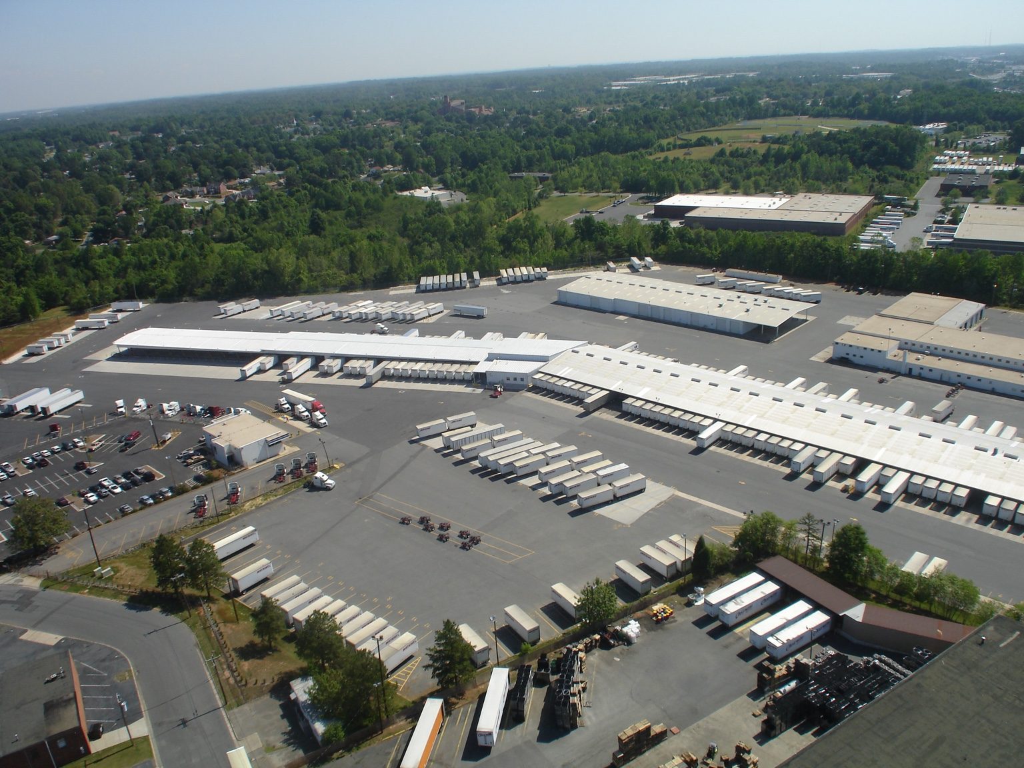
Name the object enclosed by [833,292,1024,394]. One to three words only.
building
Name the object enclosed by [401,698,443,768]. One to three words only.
trailer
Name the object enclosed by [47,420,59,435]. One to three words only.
vehicle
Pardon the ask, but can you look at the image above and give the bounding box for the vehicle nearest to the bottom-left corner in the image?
[83,719,107,741]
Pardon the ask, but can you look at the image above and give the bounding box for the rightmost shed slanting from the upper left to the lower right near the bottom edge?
[288,676,350,757]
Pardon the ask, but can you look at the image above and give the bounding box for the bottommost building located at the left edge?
[0,647,87,768]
